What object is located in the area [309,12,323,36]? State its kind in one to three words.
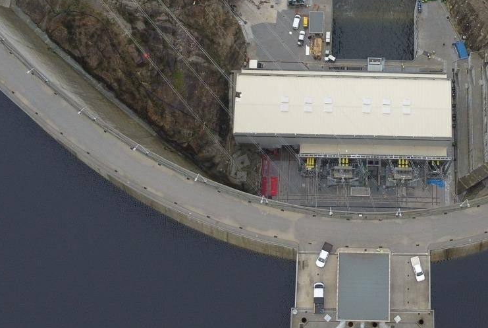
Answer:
building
